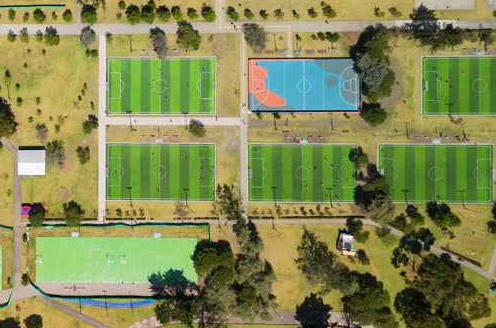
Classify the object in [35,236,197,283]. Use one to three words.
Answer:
sports field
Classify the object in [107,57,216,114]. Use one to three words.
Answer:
soccer field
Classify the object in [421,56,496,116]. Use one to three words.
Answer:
soccer field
